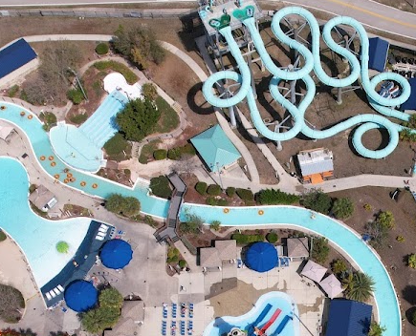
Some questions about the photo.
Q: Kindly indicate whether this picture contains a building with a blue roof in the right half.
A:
Yes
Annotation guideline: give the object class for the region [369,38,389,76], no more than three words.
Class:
building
